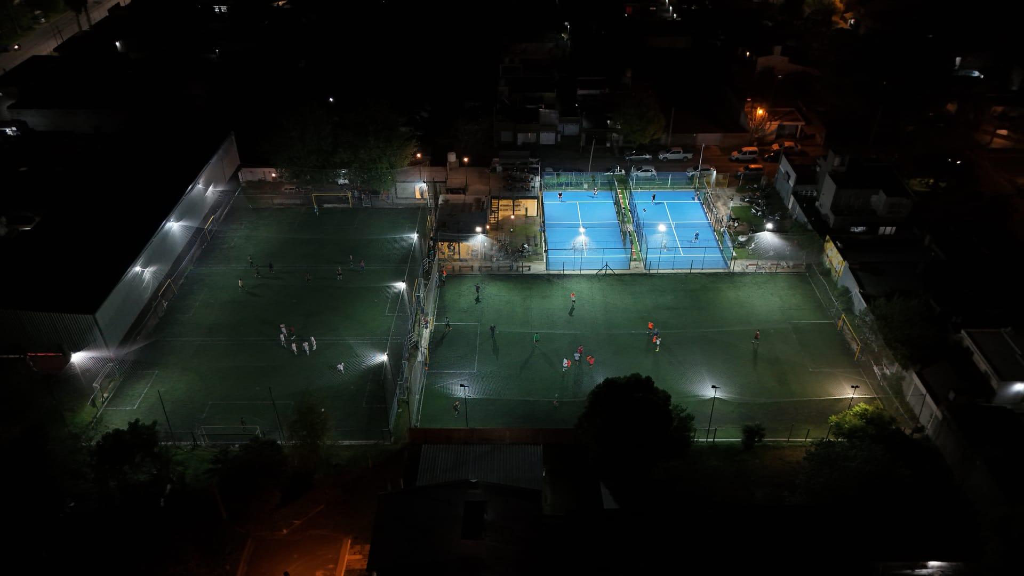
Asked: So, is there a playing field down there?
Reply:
Yes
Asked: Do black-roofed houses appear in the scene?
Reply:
Yes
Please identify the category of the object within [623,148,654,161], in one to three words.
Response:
vehicle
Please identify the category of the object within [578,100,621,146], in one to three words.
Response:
house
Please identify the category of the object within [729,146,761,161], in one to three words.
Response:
vehicle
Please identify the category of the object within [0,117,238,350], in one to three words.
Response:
warehouse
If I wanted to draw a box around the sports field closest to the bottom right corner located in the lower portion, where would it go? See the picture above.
[415,273,882,439]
